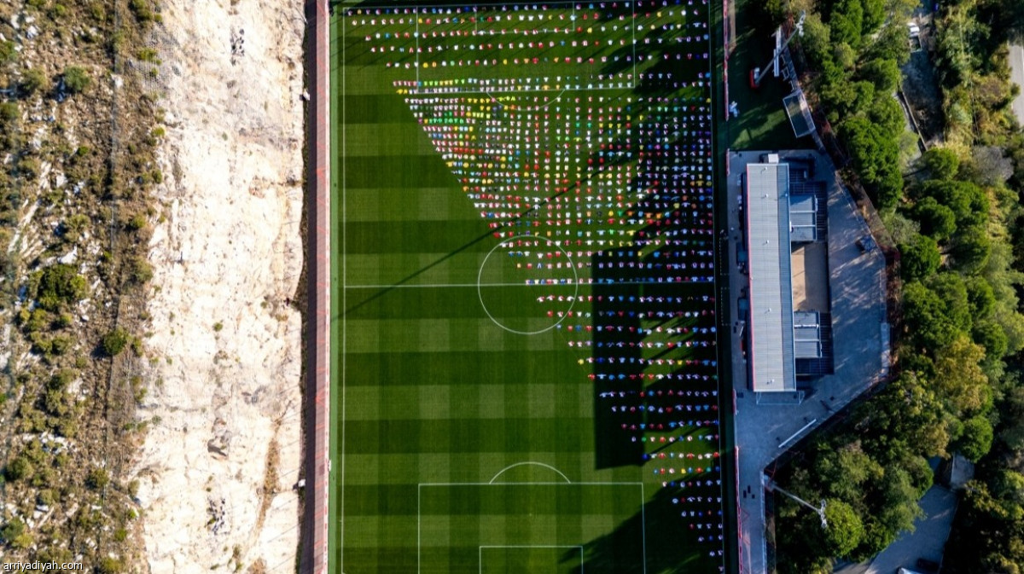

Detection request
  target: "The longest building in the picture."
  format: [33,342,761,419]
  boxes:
[743,152,795,394]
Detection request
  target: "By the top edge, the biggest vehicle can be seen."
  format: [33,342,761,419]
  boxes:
[906,24,924,53]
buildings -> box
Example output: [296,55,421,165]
[943,450,978,491]
[743,152,795,394]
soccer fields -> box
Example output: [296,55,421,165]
[329,0,741,574]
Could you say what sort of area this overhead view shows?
sports ground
